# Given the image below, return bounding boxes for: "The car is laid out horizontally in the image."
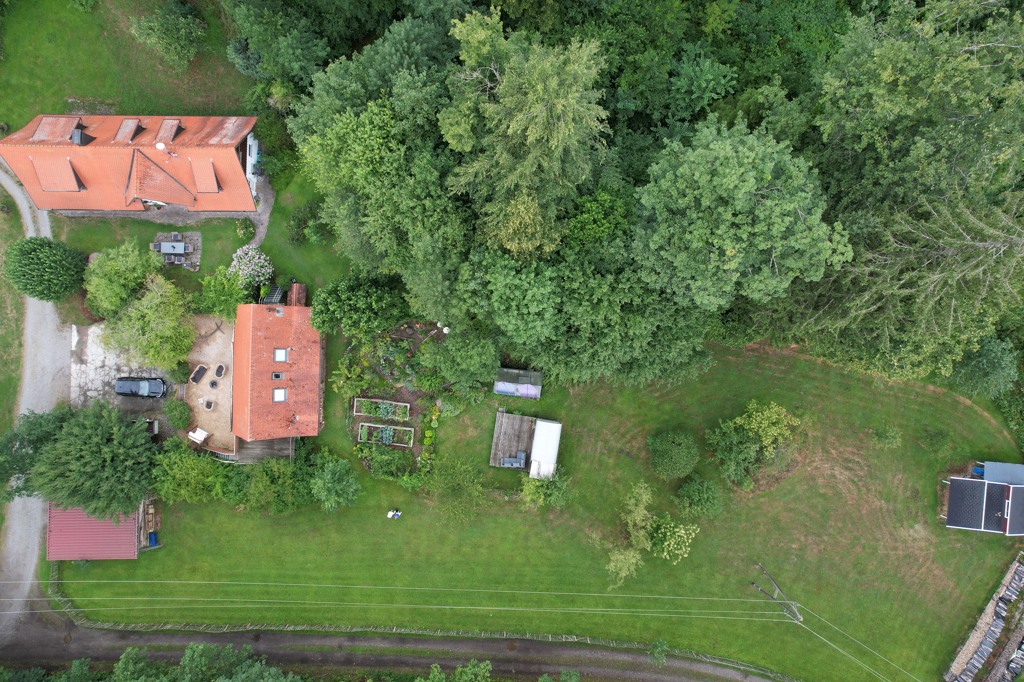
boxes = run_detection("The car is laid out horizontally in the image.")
[114,376,169,400]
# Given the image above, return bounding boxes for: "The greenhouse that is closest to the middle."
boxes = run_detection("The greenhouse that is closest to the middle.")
[493,367,543,398]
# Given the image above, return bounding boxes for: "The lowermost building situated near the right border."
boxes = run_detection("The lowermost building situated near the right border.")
[932,477,1024,536]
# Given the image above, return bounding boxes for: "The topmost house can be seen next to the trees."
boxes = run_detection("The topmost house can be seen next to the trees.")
[0,115,258,216]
